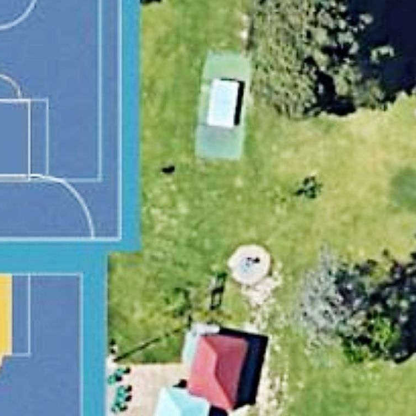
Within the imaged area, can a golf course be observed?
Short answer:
No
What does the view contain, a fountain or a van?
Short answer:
fountain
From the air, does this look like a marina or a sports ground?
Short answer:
sports ground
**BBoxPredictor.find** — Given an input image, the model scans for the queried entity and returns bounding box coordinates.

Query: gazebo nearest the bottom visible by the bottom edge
[155,389,209,416]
